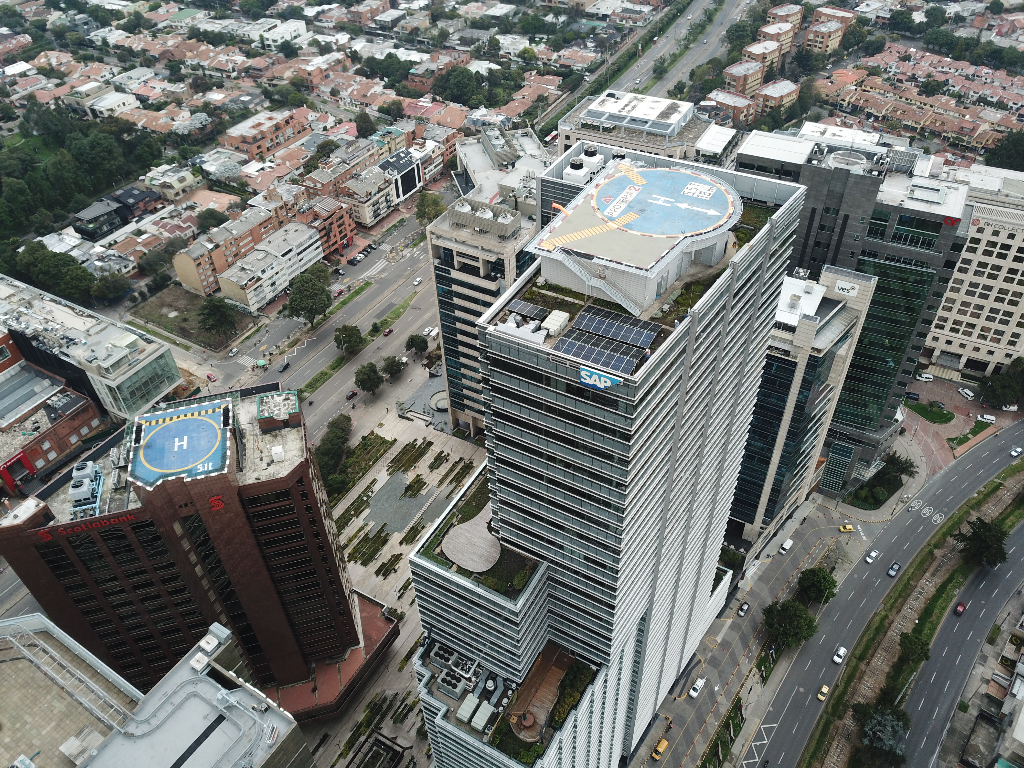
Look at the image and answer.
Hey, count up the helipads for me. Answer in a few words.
2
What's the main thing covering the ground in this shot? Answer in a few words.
buildings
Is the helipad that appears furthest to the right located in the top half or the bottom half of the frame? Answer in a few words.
top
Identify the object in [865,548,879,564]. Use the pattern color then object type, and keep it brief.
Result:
white car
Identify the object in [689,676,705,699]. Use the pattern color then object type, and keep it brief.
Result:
white car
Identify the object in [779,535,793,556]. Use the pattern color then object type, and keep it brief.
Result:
white vehicle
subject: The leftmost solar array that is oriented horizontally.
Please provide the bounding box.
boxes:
[501,300,549,319]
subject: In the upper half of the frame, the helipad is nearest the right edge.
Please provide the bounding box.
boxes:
[526,164,749,310]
